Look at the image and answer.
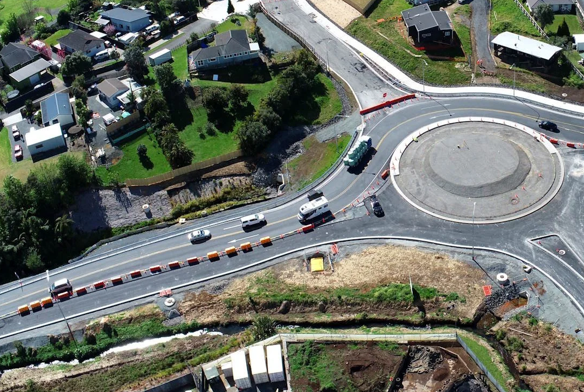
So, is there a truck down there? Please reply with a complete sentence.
Yes, a truck is visible in the scene.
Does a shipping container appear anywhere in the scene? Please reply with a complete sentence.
Yes, there is a shipping container in the image.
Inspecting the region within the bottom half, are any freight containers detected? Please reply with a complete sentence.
Yes, I can see a freight container within the bottom half.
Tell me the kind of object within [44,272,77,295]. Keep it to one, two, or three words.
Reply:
vehicle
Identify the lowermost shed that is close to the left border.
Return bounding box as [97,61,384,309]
[22,122,65,159]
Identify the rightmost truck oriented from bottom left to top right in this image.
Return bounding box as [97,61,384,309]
[339,128,374,168]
